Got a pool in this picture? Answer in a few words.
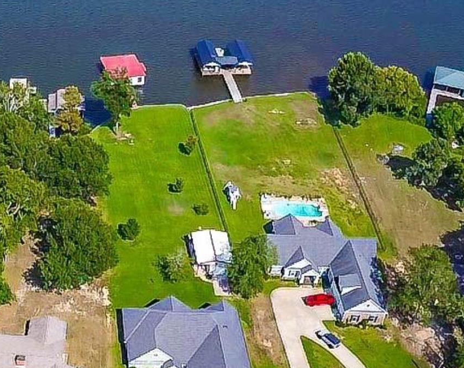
Yes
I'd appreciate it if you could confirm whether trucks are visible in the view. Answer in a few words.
No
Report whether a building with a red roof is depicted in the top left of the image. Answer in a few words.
Yes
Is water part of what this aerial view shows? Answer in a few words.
Yes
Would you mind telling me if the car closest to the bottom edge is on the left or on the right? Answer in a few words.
right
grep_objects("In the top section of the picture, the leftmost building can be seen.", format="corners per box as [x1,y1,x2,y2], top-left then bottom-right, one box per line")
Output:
[47,90,89,127]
